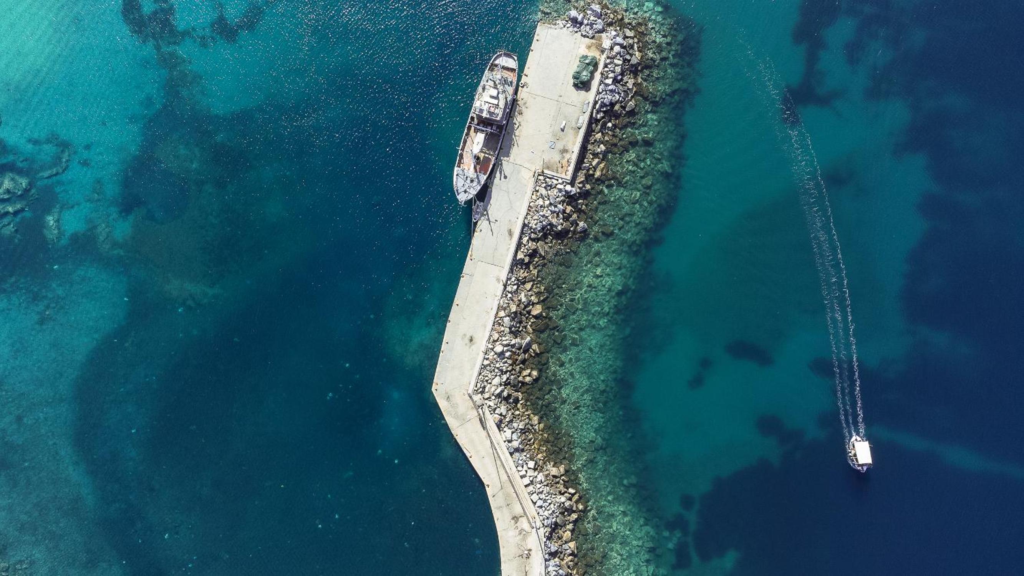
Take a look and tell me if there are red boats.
No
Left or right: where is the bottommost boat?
right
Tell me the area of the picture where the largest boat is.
top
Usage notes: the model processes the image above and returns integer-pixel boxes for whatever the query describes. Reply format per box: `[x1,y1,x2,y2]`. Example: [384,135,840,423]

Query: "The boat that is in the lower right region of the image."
[848,434,873,474]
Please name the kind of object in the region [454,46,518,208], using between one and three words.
boat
